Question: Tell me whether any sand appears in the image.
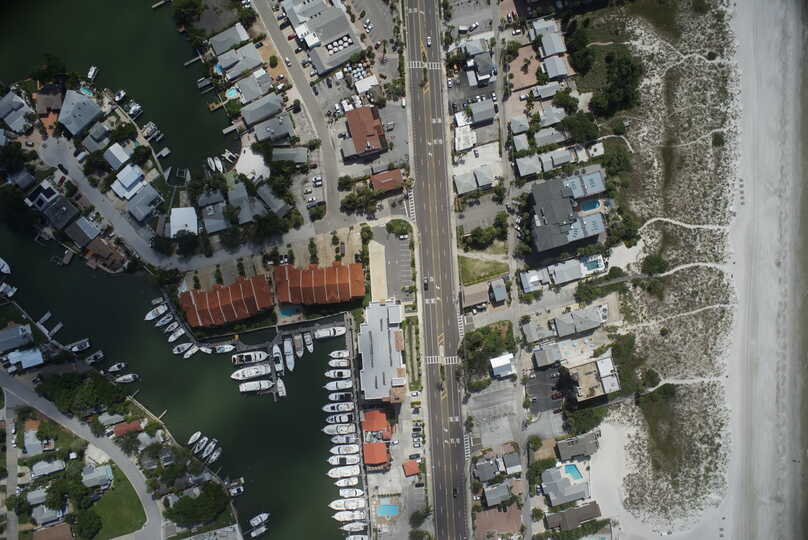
Yes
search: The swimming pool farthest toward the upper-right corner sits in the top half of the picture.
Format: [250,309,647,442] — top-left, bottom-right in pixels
[580,198,602,212]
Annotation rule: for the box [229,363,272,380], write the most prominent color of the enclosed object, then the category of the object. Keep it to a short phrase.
white boat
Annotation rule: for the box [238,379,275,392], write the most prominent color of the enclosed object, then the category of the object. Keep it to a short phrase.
white boat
